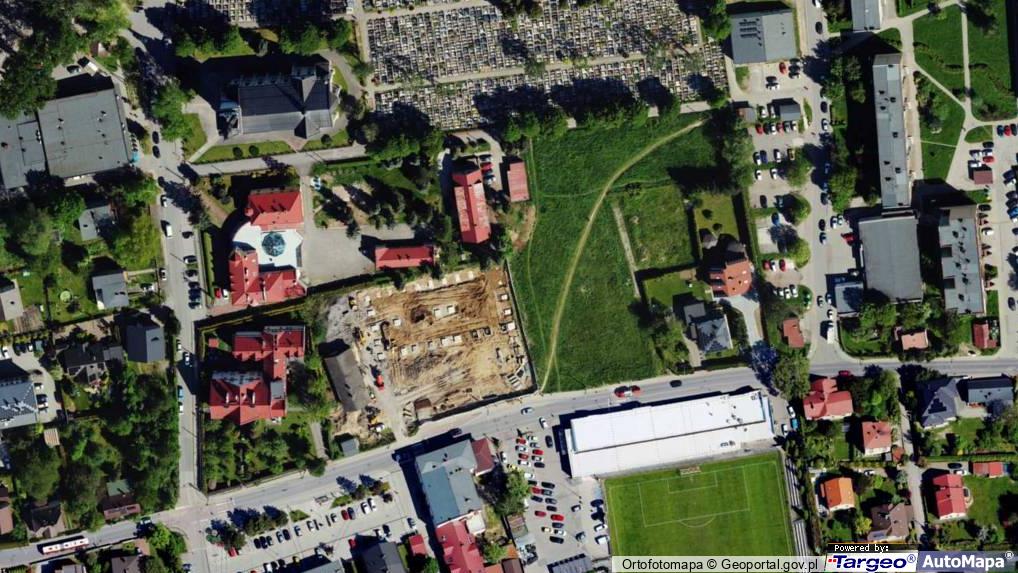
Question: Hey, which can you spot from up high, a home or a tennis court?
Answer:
home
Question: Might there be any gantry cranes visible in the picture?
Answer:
No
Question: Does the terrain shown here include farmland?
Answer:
No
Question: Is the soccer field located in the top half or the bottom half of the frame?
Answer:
bottom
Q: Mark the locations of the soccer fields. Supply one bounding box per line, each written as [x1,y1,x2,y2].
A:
[603,452,795,573]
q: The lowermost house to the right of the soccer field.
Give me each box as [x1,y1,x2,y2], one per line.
[867,503,914,540]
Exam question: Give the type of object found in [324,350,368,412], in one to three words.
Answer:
barn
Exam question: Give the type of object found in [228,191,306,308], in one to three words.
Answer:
house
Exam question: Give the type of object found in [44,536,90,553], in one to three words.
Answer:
vehicle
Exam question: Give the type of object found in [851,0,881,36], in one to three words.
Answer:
building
